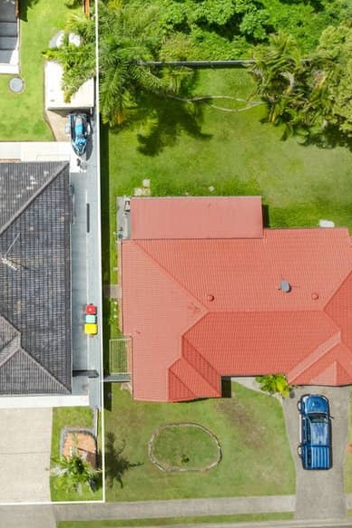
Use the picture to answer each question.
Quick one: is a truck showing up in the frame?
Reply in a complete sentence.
Yes, looking at the shot, I can spot a truck.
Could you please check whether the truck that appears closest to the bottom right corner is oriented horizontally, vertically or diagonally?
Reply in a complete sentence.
The truck that appears closest to the bottom right corner is oriented vertically.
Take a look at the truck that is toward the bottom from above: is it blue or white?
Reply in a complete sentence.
In this view, the truck that is toward the bottom is blue.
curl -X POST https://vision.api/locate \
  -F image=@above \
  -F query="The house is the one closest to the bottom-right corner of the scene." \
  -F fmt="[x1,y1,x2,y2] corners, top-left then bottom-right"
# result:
[121,195,352,403]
